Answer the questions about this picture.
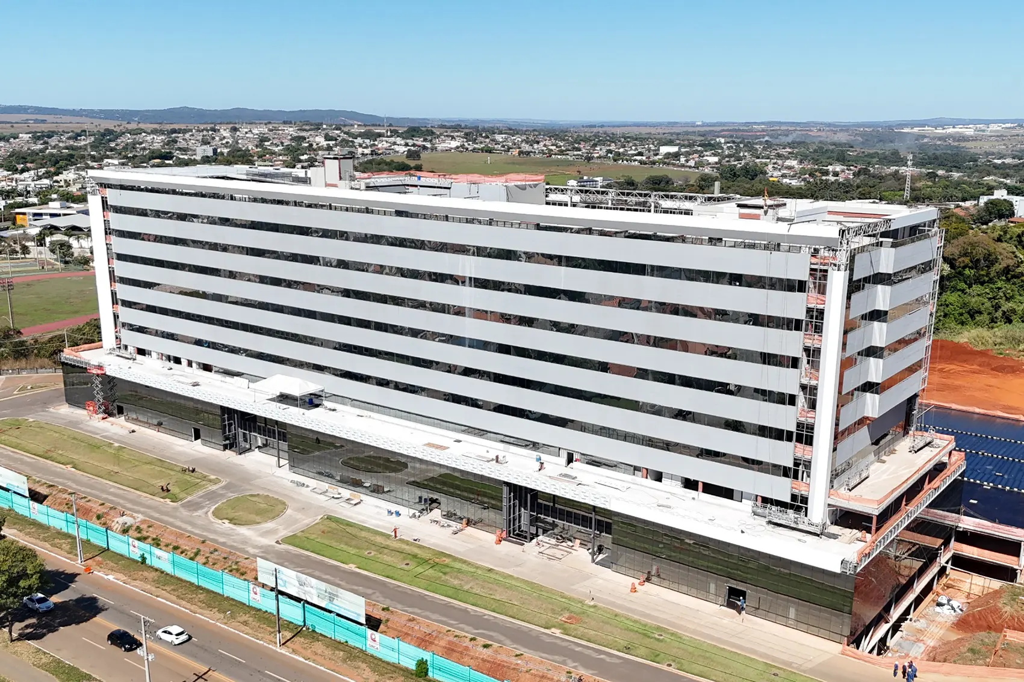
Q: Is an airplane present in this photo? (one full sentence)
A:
No, I find no airplane anywhere in the image.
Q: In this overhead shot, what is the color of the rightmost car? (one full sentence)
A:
The rightmost car is white.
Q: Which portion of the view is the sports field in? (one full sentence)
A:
The sports field is in the left part of the image.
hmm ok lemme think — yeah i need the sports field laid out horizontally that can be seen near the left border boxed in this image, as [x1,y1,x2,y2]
[0,276,121,338]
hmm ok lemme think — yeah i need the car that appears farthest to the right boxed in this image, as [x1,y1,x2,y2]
[157,622,192,644]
